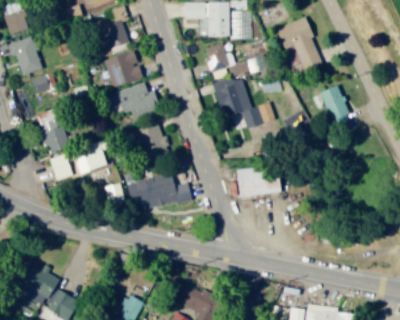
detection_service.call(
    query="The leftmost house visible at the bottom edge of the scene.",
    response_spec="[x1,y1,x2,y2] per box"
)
[31,268,77,320]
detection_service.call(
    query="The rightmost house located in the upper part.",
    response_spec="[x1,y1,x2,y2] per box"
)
[321,84,352,120]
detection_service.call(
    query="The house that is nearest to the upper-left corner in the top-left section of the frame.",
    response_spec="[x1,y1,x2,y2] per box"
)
[5,2,29,37]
